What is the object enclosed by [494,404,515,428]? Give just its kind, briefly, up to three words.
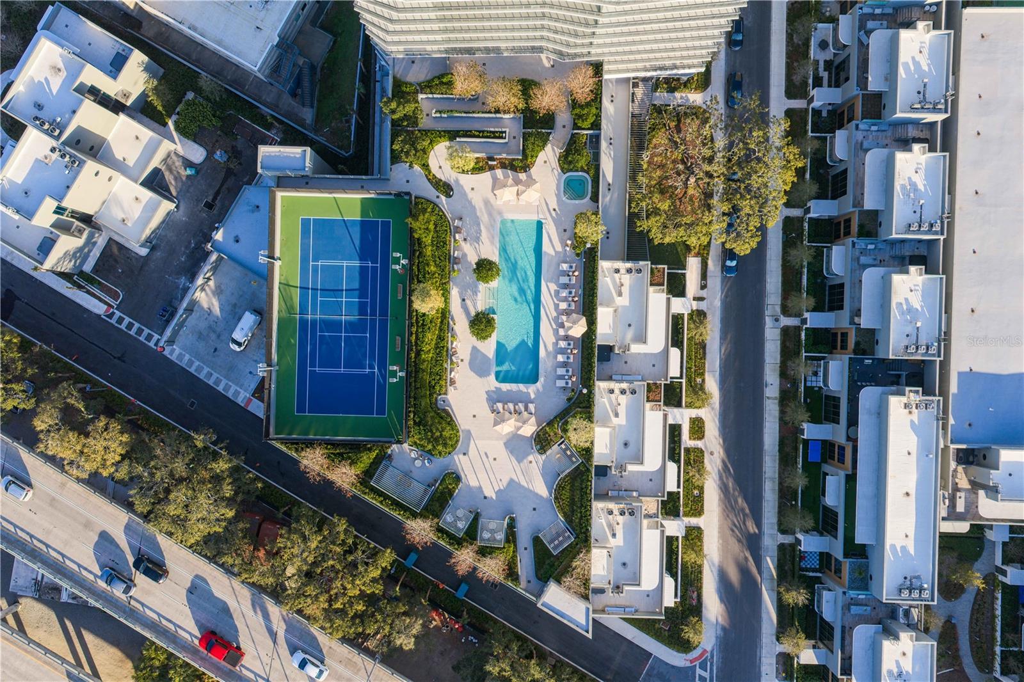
umbrella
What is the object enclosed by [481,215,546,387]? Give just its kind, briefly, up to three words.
swimming pool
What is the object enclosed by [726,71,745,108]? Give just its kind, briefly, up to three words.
car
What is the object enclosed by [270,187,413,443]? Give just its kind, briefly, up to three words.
tennis court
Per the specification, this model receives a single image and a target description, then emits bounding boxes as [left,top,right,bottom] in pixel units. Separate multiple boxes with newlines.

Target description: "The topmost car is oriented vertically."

[727,14,746,52]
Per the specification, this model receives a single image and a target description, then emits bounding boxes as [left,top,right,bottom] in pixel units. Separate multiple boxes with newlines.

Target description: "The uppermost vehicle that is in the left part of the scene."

[229,308,262,352]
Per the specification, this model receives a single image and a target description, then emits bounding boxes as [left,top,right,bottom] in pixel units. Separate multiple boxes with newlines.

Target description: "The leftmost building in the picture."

[0,3,181,270]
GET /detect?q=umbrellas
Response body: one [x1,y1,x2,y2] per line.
[518,177,541,199]
[515,408,538,430]
[494,175,516,199]
[494,404,515,428]
[563,312,584,336]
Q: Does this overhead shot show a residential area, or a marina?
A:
residential area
